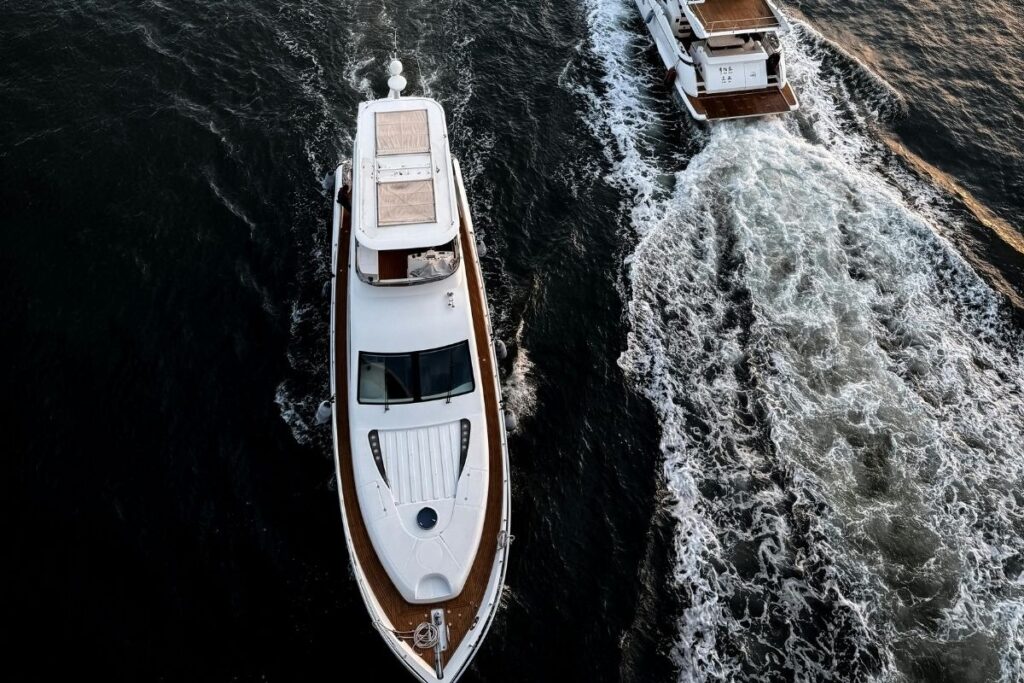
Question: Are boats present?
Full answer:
Yes, a boat appears in the view.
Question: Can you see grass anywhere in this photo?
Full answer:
No, there is no grass in the image.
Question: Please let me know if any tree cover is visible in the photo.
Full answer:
No, there is no tree cover in the image.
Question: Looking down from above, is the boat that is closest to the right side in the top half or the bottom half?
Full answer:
It is in the top half that the boat that is closest to the right side appears.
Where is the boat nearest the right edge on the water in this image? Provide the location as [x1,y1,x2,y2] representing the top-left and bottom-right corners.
[630,0,799,122]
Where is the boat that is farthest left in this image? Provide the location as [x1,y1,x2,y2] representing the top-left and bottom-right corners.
[332,30,513,683]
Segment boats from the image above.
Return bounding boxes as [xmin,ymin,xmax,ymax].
[630,0,799,122]
[332,30,513,683]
